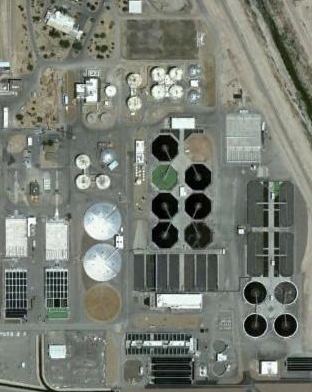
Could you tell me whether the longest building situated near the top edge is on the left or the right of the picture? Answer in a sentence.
It is on the left.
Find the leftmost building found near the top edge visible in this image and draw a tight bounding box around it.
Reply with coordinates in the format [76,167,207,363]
[46,10,83,40]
